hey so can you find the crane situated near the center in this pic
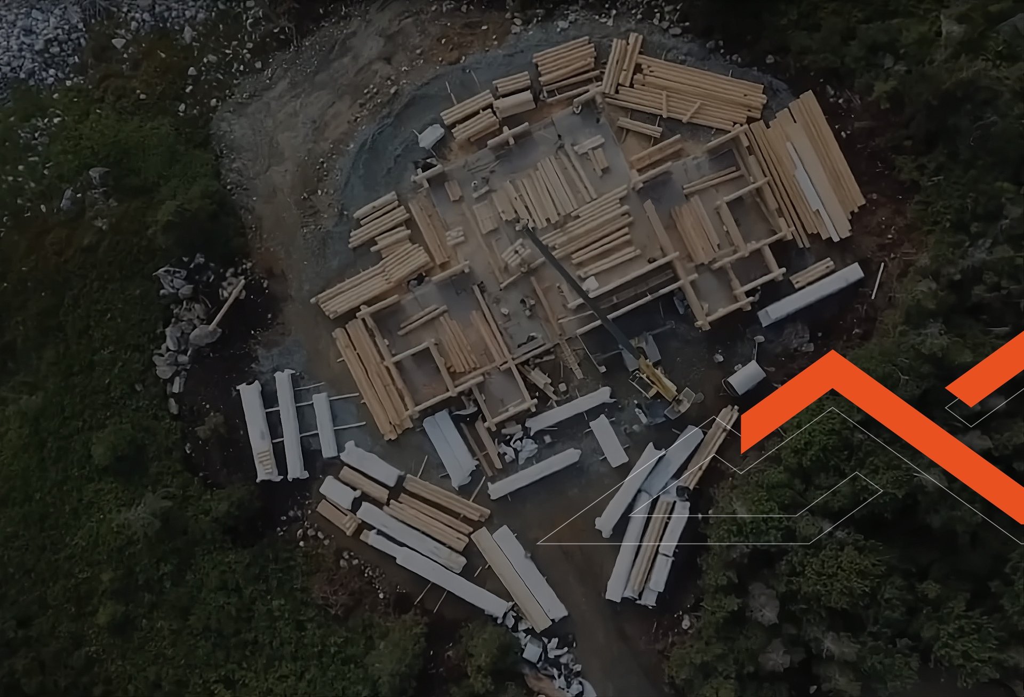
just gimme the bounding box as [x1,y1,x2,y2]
[511,213,696,420]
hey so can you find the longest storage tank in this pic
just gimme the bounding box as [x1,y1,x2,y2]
[723,359,768,399]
